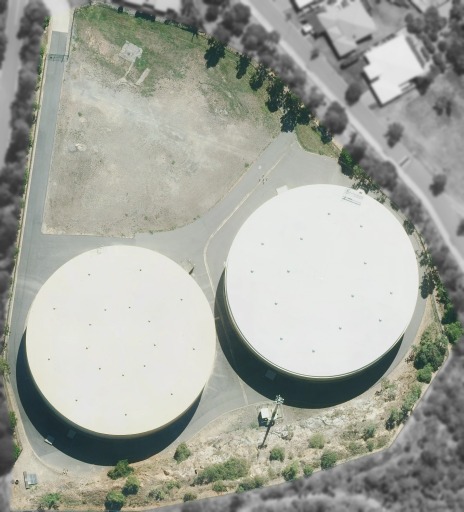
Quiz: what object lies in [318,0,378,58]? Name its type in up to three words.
house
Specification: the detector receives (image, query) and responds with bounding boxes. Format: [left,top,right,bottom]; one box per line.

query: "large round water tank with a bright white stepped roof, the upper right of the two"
[222,184,418,382]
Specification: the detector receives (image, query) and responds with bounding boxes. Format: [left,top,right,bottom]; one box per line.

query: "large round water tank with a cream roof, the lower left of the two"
[26,247,216,440]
